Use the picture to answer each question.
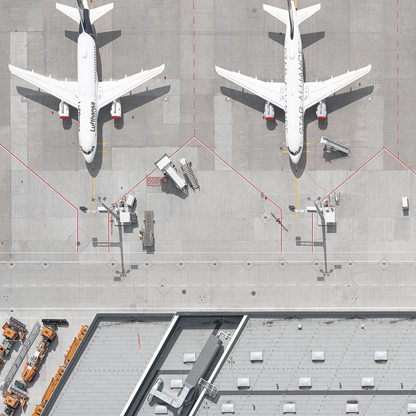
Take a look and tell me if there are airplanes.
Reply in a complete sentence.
Yes, the frame does contain an airplane.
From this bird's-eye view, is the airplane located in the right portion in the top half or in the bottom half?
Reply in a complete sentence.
The airplane located in the right portion sits in the top half of the picture.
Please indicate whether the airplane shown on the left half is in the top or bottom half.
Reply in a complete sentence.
You can find the airplane shown on the left half in the top half.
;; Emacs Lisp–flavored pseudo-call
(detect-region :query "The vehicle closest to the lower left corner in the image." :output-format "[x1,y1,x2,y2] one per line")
[0,386,28,416]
